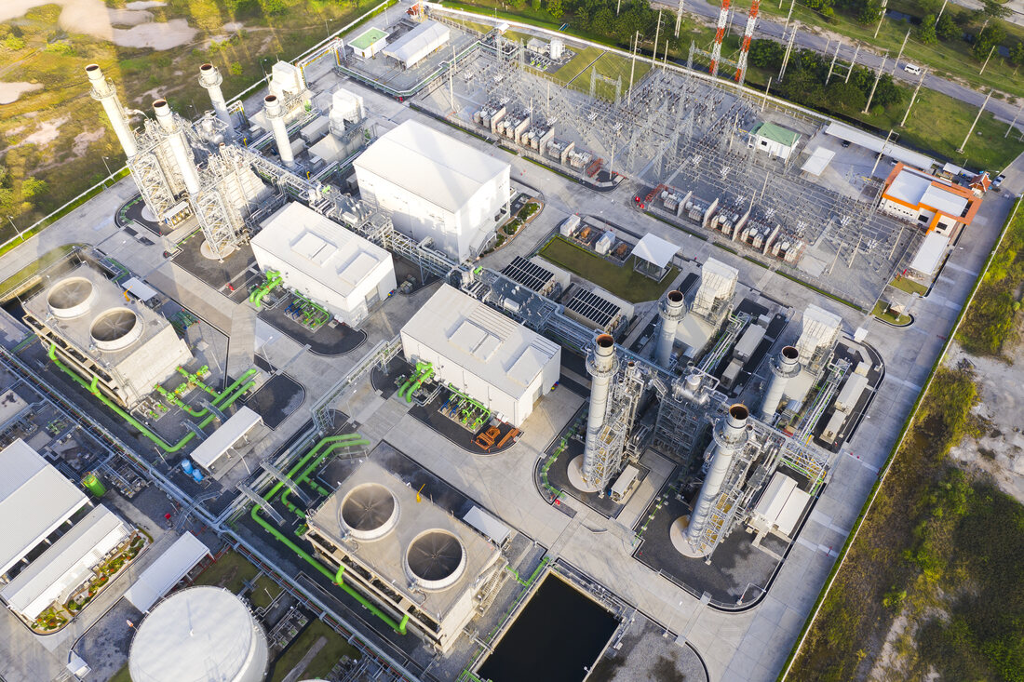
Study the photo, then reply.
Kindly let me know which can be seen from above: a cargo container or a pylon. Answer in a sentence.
The image shows a pylon.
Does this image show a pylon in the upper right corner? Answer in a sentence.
Yes, in the upper right corner there is a pylon.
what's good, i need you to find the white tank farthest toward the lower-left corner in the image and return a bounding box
[120,581,272,682]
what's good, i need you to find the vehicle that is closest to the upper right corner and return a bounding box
[904,62,922,76]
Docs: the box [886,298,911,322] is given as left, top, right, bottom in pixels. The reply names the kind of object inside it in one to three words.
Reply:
gazebo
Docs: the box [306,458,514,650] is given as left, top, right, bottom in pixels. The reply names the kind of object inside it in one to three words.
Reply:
cooling tower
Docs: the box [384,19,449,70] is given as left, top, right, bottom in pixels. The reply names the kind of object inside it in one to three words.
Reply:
shed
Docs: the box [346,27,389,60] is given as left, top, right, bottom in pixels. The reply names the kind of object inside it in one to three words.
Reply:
building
